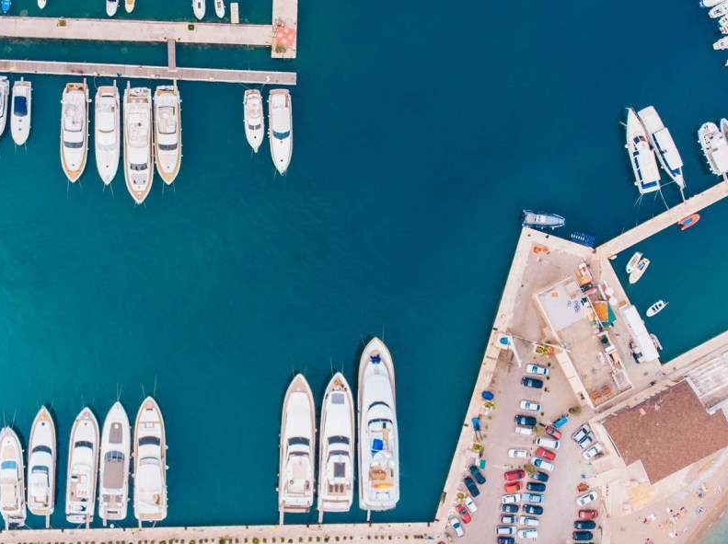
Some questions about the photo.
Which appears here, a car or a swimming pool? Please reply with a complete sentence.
Visible in the photo is a car.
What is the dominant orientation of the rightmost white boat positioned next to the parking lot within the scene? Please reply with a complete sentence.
The rightmost white boat positioned next to the parking lot is laid out up and down.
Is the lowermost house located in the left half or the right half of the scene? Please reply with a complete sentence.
It is on the right.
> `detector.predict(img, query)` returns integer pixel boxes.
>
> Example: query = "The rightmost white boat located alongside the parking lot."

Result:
[355,324,400,524]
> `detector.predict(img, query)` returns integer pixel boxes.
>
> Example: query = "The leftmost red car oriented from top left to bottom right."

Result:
[454,503,473,524]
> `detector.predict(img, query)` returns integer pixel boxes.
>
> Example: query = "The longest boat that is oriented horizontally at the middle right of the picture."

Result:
[522,210,565,229]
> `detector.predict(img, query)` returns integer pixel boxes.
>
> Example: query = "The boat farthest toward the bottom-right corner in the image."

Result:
[651,334,664,353]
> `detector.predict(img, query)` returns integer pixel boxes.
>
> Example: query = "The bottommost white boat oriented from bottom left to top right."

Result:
[646,299,667,316]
